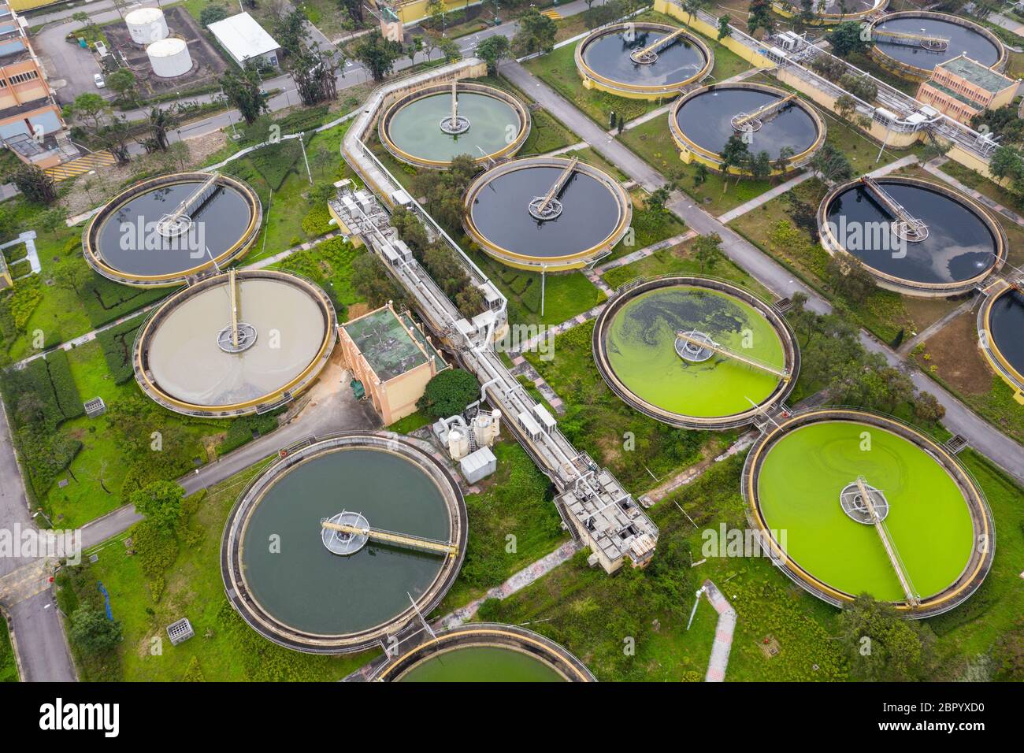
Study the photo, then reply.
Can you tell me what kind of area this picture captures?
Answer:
industrial area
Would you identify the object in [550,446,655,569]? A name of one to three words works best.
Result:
building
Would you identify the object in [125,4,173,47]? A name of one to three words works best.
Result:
storage tank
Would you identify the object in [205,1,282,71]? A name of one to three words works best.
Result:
shed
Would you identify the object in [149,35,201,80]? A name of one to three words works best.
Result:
storage tank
